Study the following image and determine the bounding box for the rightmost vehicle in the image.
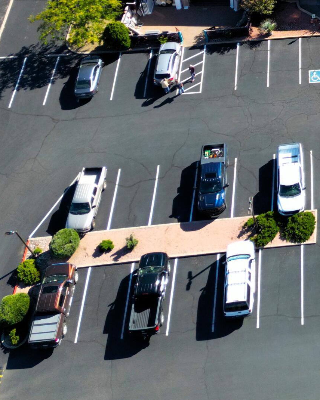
[273,139,306,214]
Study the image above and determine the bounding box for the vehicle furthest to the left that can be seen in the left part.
[23,262,73,351]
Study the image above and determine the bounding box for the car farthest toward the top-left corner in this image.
[72,54,104,99]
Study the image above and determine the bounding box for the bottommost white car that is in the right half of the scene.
[221,242,255,317]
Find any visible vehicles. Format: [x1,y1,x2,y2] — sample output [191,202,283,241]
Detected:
[65,161,108,233]
[151,41,182,84]
[129,249,170,338]
[72,54,104,99]
[221,242,255,317]
[23,262,73,351]
[195,141,227,213]
[273,139,306,214]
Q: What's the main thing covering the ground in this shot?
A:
paved ground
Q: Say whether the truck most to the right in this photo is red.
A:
No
